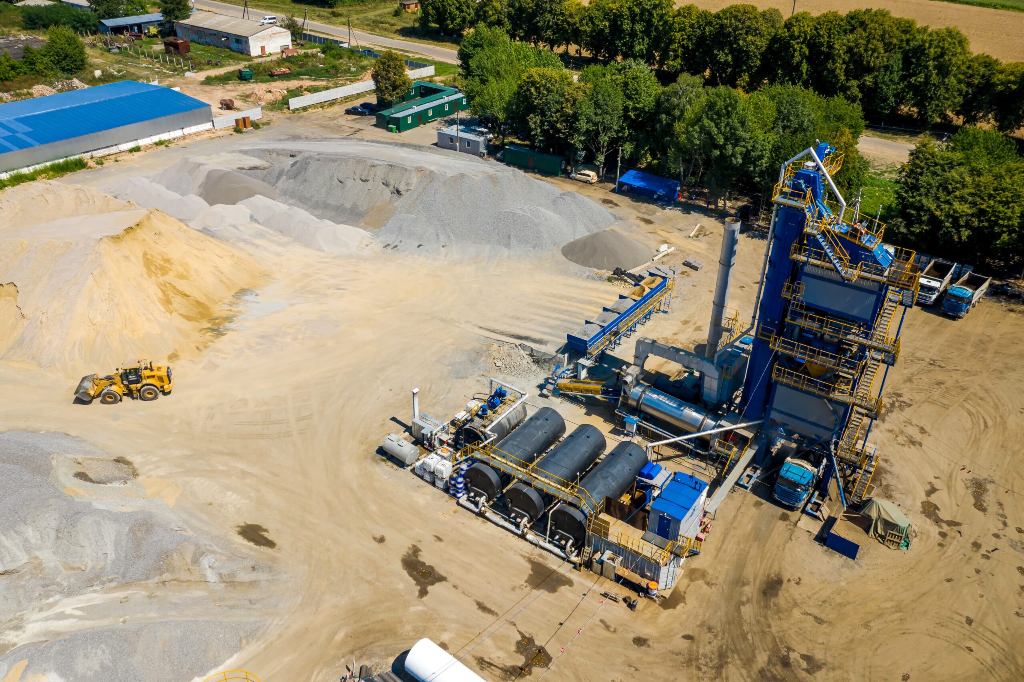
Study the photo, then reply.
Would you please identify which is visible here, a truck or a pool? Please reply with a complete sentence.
The one in the frame is a truck.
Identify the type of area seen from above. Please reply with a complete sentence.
This image shows an industrial area.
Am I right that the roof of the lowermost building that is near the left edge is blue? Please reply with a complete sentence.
Yes, the roof of the lowermost building that is near the left edge is blue.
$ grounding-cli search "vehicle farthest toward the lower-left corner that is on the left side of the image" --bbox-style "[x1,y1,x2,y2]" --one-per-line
[72,356,174,406]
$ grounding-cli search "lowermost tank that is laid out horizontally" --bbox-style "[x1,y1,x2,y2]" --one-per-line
[408,641,496,682]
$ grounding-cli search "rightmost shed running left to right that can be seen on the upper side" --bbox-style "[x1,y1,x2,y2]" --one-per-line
[615,168,683,204]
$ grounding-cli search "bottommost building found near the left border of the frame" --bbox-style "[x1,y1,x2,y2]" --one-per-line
[0,80,214,177]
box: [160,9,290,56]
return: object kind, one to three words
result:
barn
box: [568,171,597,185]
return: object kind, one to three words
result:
car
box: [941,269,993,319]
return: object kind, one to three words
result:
truck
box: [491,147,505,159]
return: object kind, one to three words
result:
vehicle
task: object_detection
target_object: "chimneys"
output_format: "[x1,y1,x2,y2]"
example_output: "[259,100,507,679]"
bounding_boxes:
[708,214,749,363]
